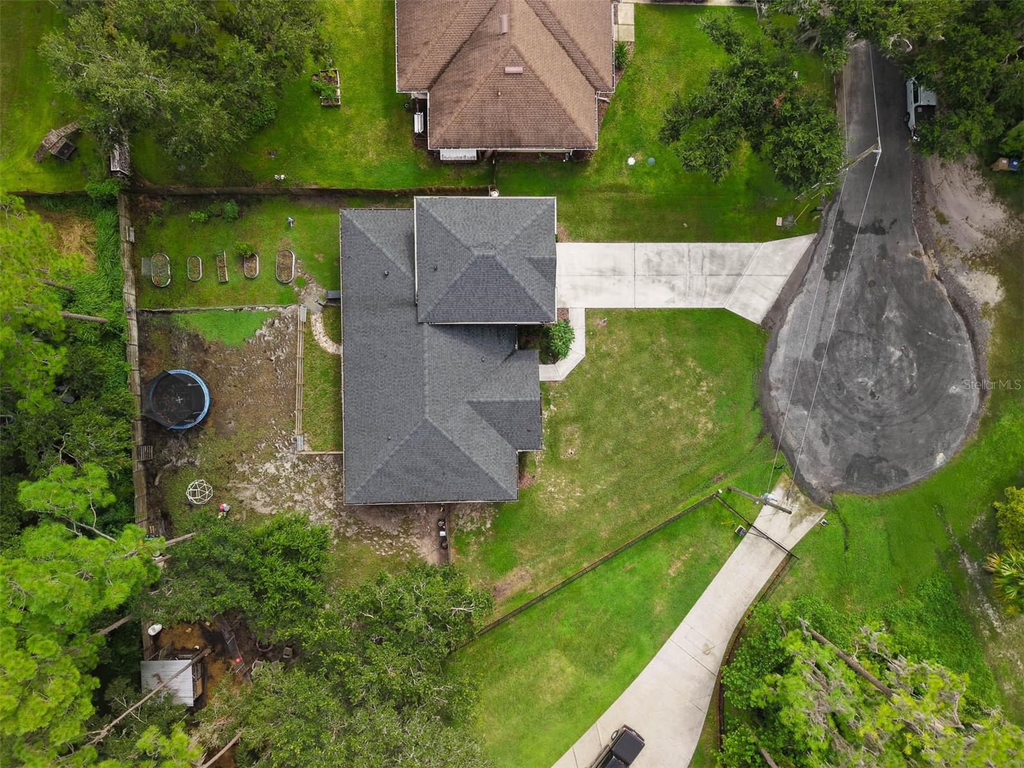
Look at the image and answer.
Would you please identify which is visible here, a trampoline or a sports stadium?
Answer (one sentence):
Of the two, only a trampoline appears.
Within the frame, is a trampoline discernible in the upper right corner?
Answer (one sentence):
No, no trampoline is visible in the upper right corner.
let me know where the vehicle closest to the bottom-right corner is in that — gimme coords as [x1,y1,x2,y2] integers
[591,722,645,768]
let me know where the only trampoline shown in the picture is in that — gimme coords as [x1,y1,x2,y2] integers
[143,369,209,430]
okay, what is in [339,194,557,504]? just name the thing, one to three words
house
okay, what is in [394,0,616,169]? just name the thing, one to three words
house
